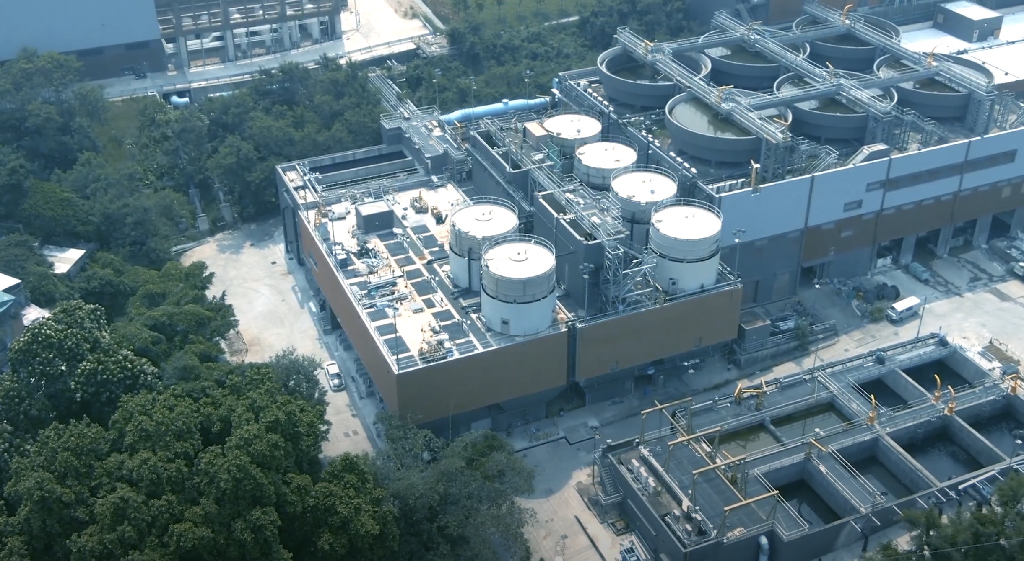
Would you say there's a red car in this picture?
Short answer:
No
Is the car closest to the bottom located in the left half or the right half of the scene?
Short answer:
left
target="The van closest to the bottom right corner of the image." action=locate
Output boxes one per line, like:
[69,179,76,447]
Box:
[886,294,935,325]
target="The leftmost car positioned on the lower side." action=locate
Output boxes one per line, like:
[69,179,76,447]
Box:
[321,357,348,387]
